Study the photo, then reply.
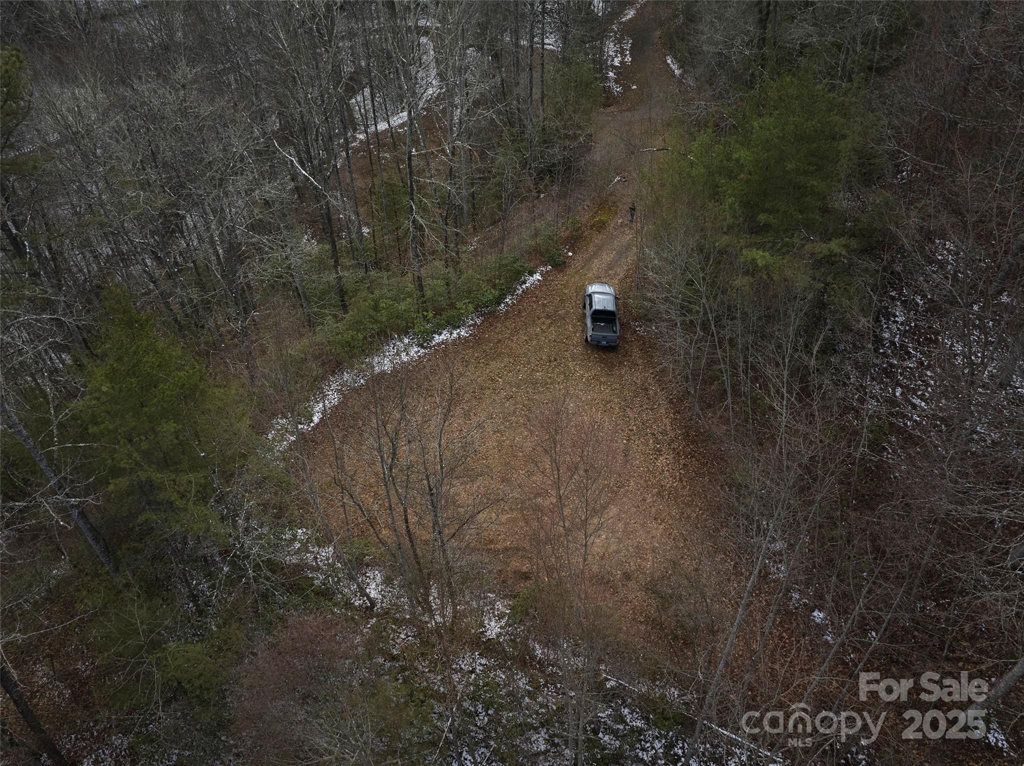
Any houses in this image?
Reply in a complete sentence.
No, no house is visible in the view.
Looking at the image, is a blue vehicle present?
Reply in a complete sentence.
No, no blue vehicle is visible in the scene.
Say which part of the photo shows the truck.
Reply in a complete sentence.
Look in the center portion of the view to spot the truck.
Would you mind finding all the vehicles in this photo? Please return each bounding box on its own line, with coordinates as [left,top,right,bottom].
[585,281,623,347]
